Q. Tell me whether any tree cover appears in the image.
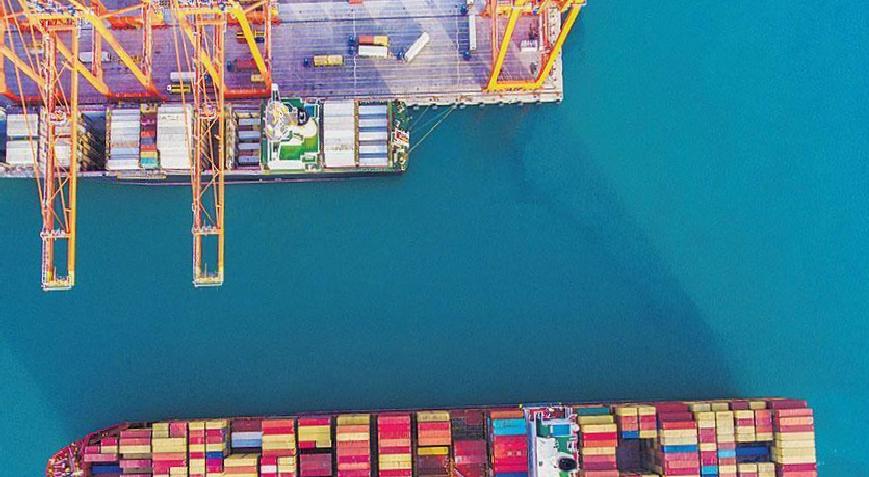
No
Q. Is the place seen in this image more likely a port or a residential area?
port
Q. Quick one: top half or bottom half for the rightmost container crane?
top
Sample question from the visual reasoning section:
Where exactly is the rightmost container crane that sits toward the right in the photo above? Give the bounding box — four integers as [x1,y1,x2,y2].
[482,0,582,89]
